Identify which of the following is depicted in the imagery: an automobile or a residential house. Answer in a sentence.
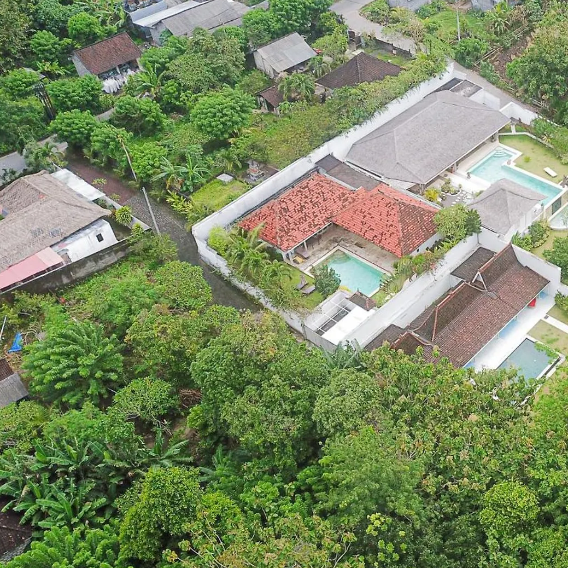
This aerial view contains a residential house.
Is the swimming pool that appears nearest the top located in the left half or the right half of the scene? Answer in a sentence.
The swimming pool that appears nearest the top appears in the right half of the scene.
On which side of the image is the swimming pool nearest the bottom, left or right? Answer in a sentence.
The swimming pool nearest the bottom appears in the right half of the scene.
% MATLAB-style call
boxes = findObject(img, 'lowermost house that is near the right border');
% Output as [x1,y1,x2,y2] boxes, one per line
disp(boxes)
[362,235,552,391]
